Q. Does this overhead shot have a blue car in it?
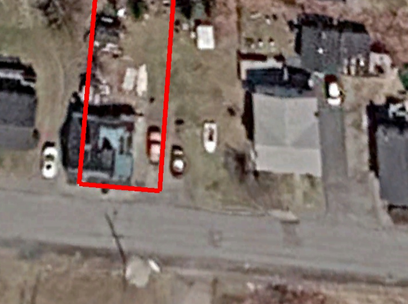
No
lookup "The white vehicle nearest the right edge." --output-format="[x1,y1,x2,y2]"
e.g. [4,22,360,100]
[326,80,343,108]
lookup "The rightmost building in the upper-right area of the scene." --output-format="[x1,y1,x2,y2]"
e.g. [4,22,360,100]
[341,29,370,75]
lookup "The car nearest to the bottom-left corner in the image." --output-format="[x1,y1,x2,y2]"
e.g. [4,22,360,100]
[41,143,59,178]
